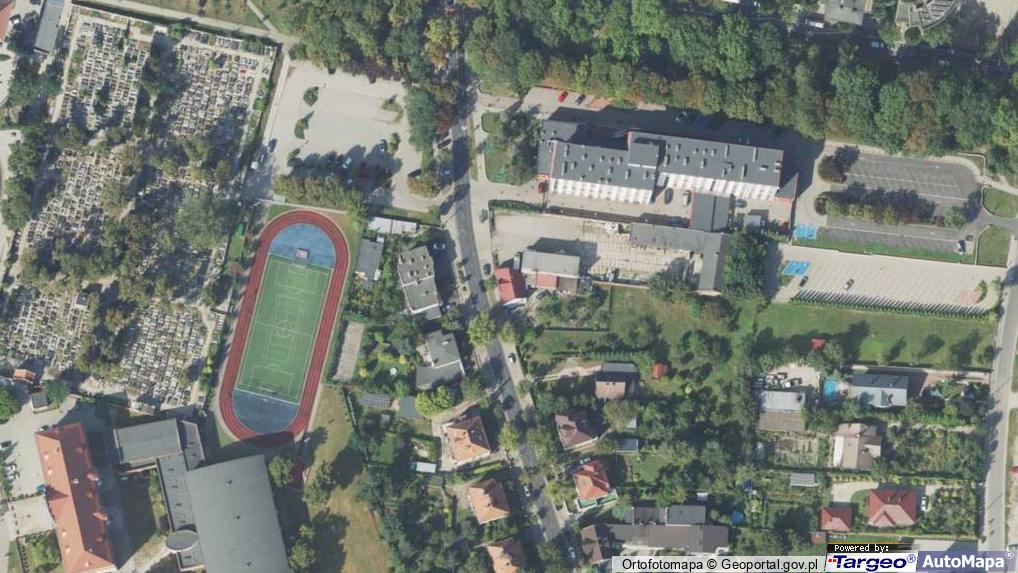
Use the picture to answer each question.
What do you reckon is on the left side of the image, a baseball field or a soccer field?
soccer field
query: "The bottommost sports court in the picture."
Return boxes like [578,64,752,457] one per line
[236,389,298,432]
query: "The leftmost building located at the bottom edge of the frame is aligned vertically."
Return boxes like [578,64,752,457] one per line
[36,423,111,573]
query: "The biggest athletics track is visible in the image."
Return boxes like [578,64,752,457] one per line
[220,209,350,448]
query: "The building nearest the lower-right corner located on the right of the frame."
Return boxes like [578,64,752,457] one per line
[867,490,917,530]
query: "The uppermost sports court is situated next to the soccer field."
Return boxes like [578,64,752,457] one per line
[271,224,335,269]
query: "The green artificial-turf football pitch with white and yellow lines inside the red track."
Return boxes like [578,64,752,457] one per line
[238,254,332,405]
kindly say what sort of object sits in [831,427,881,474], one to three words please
house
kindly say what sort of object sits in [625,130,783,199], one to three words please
building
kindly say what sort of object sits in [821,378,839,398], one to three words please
swimming pool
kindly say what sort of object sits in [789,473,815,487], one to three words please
greenhouse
